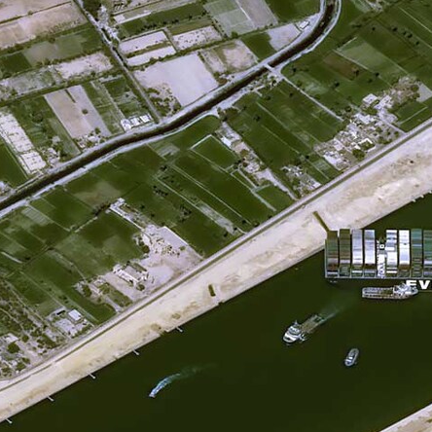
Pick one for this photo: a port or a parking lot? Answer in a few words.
port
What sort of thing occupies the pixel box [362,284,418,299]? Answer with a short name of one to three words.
ship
